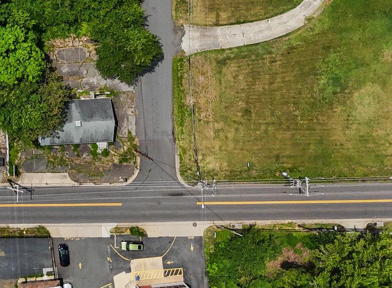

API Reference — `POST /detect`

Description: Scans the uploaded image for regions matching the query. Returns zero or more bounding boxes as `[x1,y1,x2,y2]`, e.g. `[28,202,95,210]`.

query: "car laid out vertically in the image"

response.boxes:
[58,244,71,268]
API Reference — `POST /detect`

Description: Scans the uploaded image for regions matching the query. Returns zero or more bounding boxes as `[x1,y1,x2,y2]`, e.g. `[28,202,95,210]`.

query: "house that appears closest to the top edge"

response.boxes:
[39,97,115,152]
